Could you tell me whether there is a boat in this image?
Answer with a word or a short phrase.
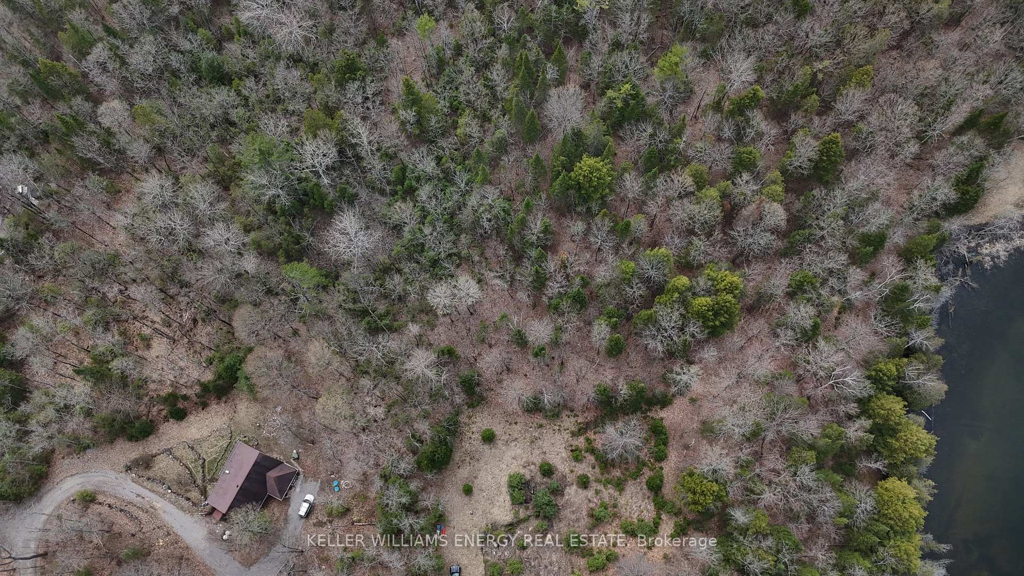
No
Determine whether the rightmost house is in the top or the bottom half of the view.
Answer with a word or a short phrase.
bottom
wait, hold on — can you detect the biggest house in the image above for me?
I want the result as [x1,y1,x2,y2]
[205,441,300,527]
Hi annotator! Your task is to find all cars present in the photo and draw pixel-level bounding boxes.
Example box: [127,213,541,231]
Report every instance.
[449,562,461,576]
[294,493,316,521]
